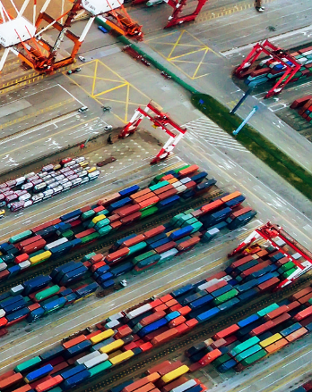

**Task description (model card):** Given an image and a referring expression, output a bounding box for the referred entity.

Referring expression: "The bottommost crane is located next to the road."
[229,222,312,296]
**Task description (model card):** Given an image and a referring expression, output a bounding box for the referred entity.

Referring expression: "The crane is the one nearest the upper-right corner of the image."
[235,40,303,97]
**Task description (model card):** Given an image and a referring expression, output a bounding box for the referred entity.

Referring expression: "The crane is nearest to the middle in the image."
[121,102,188,164]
